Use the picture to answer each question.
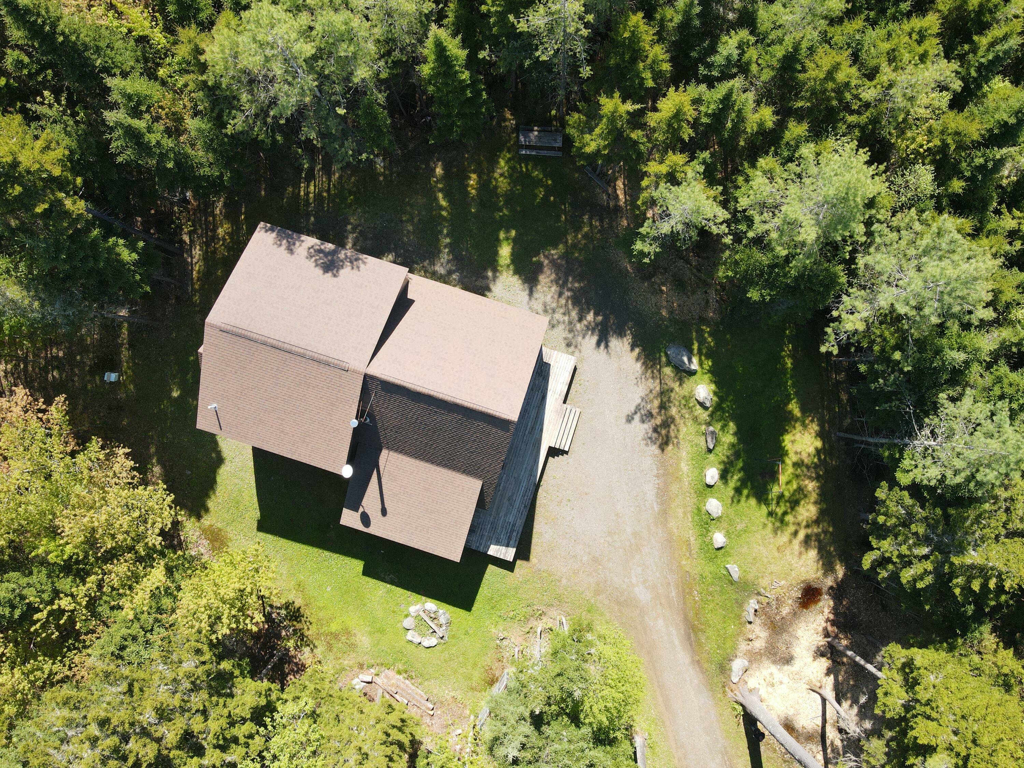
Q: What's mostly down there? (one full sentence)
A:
Most of the picture is covered by trees.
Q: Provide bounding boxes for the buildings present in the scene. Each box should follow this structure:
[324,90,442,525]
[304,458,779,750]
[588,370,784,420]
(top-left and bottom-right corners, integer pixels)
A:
[196,221,550,561]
